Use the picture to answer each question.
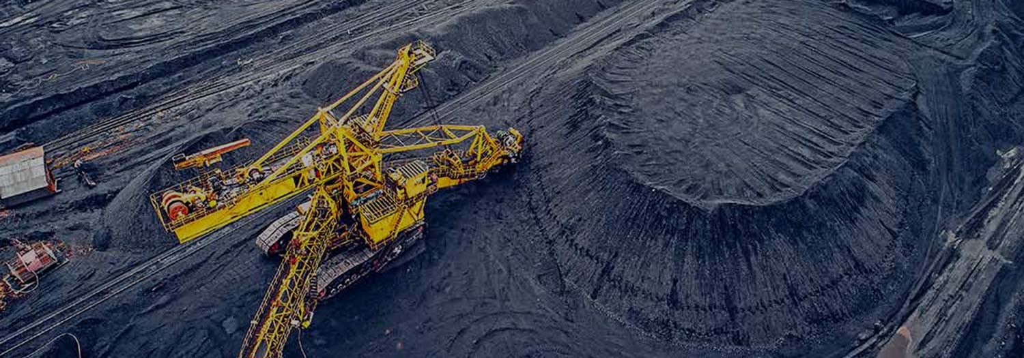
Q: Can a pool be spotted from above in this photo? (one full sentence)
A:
No, the frame has no pool in it.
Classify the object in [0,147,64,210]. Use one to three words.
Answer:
shed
